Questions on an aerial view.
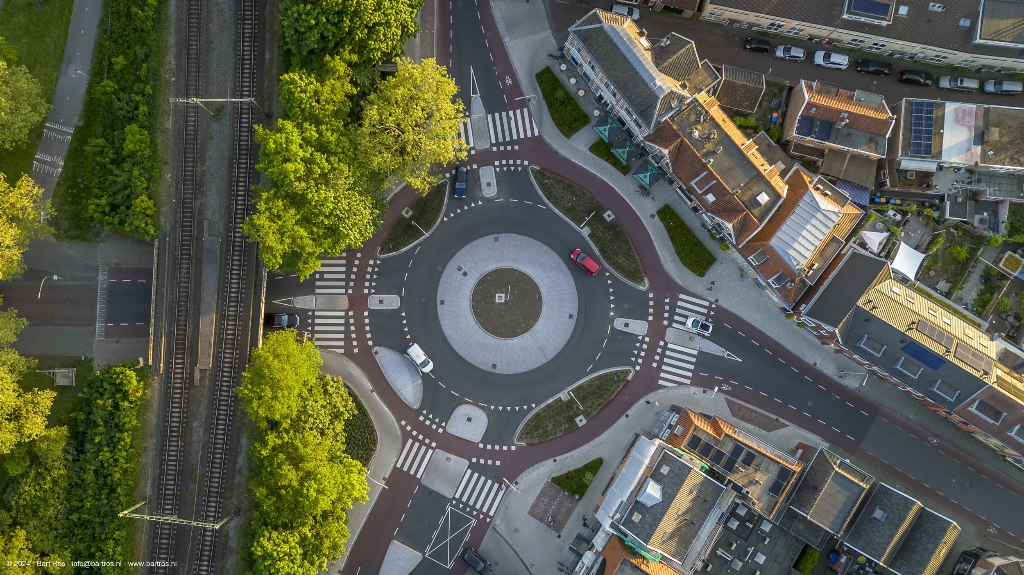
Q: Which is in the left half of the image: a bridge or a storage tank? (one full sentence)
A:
Visible in the left half of the image is a bridge.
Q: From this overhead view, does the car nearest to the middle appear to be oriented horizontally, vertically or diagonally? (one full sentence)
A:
The car nearest to the middle is oriented diagonally.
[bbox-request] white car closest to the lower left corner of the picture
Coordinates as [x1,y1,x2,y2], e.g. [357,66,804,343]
[405,342,433,374]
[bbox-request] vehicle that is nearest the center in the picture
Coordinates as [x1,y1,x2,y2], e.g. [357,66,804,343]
[571,247,601,275]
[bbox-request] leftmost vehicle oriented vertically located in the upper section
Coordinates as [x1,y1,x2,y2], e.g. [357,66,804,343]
[452,164,468,198]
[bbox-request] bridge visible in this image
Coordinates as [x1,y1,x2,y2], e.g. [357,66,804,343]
[148,220,270,386]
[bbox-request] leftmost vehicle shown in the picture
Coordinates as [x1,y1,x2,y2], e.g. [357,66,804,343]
[265,313,298,329]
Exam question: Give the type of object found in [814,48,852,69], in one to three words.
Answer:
car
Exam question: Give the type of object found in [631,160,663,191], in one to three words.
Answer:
umbrella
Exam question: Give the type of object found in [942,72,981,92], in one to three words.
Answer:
car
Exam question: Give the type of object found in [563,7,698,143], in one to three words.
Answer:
building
